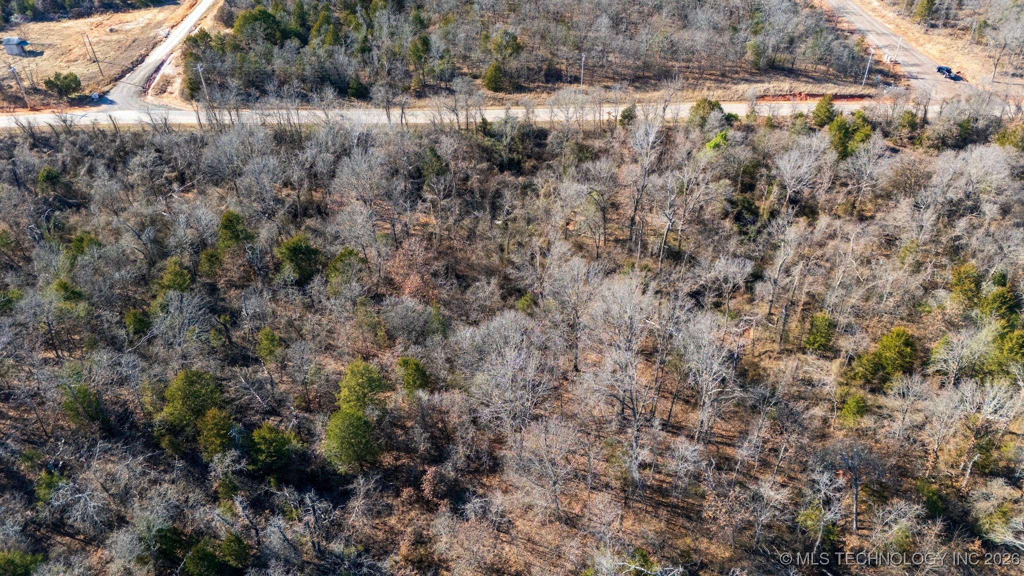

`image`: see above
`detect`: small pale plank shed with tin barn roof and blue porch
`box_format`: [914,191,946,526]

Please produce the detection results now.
[4,40,38,56]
